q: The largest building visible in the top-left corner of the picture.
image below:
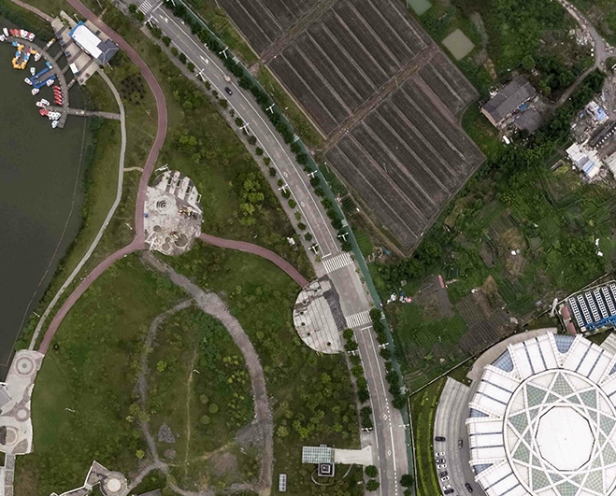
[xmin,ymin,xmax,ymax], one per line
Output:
[68,23,115,68]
